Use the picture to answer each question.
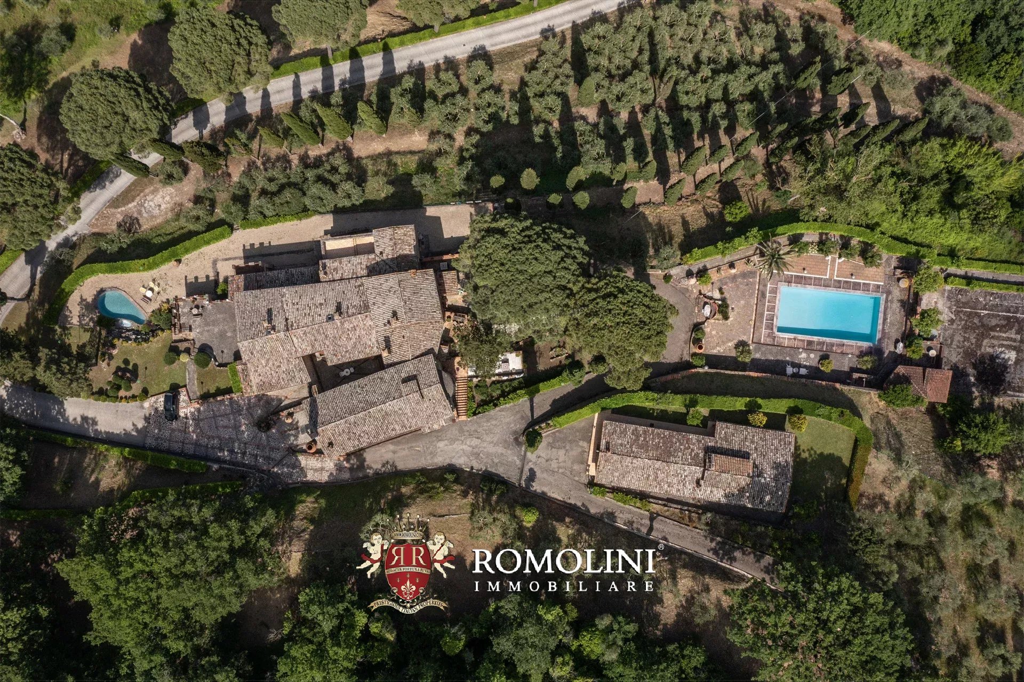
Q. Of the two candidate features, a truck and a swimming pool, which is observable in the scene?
swimming pool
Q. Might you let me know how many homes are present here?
two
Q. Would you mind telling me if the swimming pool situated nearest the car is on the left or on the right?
left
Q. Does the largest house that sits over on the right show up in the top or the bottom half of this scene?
bottom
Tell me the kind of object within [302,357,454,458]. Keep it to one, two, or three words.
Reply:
house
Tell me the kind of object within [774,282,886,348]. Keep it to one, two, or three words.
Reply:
swimming pool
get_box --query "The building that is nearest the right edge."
[879,366,953,403]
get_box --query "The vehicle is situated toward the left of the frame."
[159,393,177,423]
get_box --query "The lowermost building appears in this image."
[595,420,795,514]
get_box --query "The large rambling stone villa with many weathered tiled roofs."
[173,225,461,399]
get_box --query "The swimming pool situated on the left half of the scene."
[96,288,148,324]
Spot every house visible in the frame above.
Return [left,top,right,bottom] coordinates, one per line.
[595,420,795,514]
[173,225,461,399]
